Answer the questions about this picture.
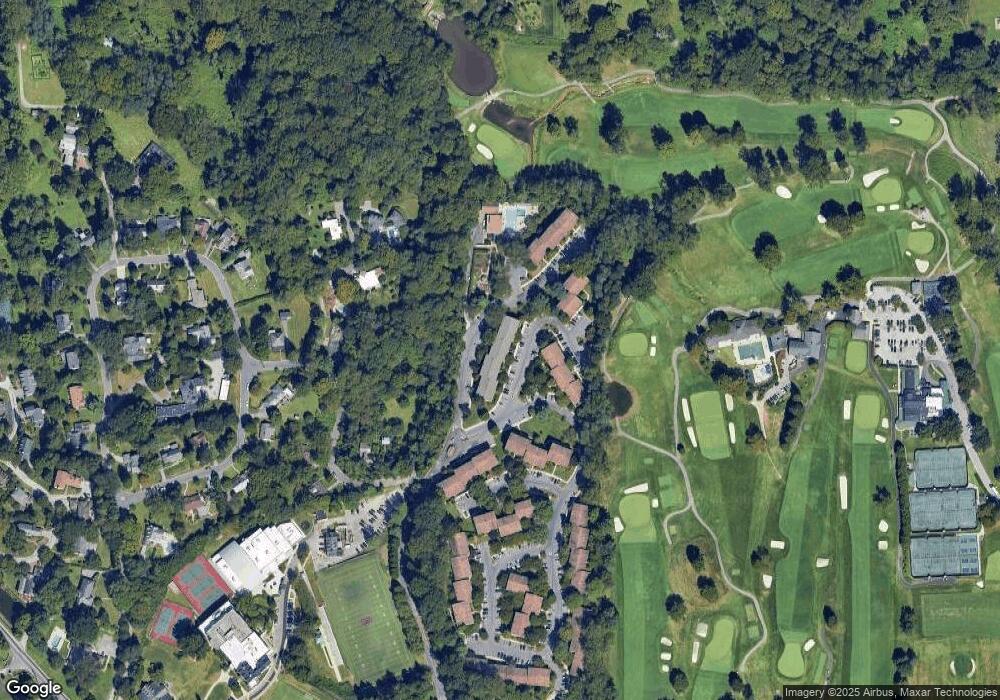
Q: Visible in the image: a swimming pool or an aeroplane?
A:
swimming pool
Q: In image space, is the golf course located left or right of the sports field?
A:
to its right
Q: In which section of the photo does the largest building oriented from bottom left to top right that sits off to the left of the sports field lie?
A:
bottom left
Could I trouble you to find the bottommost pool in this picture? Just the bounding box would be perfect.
[48,627,65,652]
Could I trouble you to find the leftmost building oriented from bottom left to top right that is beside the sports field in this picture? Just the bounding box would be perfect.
[209,519,305,594]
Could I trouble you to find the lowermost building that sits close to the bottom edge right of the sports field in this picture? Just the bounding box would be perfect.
[492,666,551,687]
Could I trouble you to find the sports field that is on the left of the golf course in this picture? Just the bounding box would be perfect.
[317,549,413,683]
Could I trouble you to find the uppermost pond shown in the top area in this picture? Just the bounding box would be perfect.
[438,17,498,97]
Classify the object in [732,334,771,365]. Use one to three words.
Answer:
swimming pool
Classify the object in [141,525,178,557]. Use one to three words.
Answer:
house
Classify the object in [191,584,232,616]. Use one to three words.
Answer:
tennis court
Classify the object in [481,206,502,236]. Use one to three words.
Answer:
building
